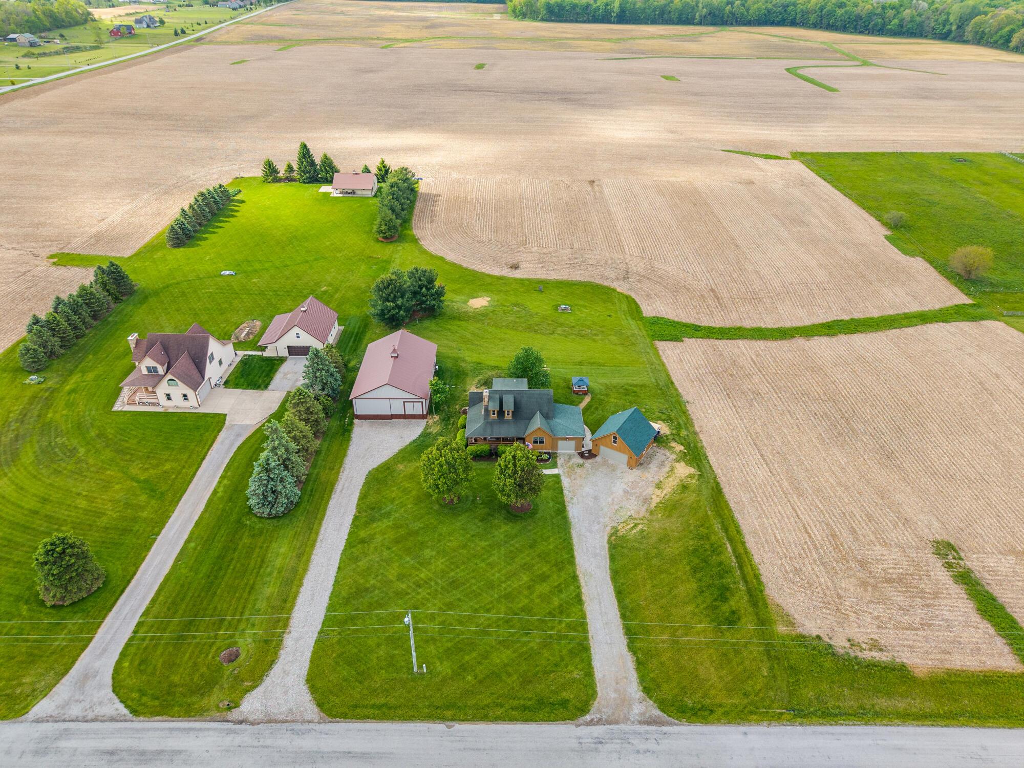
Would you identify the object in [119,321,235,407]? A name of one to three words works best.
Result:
house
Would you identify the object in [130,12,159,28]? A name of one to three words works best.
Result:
house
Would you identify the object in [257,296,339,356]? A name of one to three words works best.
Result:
building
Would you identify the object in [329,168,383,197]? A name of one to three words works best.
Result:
building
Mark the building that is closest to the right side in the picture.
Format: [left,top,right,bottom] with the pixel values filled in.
[589,407,658,468]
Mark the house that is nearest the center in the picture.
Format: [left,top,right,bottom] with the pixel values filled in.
[465,378,587,453]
